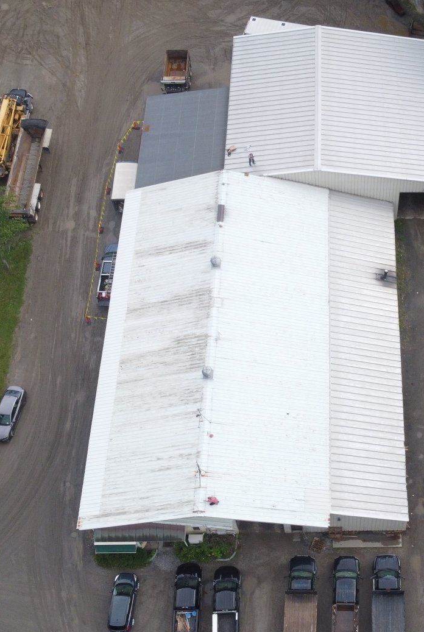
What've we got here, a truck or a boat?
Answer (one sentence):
I can see a truck in this picture.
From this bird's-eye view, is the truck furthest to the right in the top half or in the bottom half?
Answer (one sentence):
It is in the bottom half that the truck furthest to the right appears.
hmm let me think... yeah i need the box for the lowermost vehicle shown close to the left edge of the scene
[0,387,27,439]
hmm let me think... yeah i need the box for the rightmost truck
[368,557,406,632]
